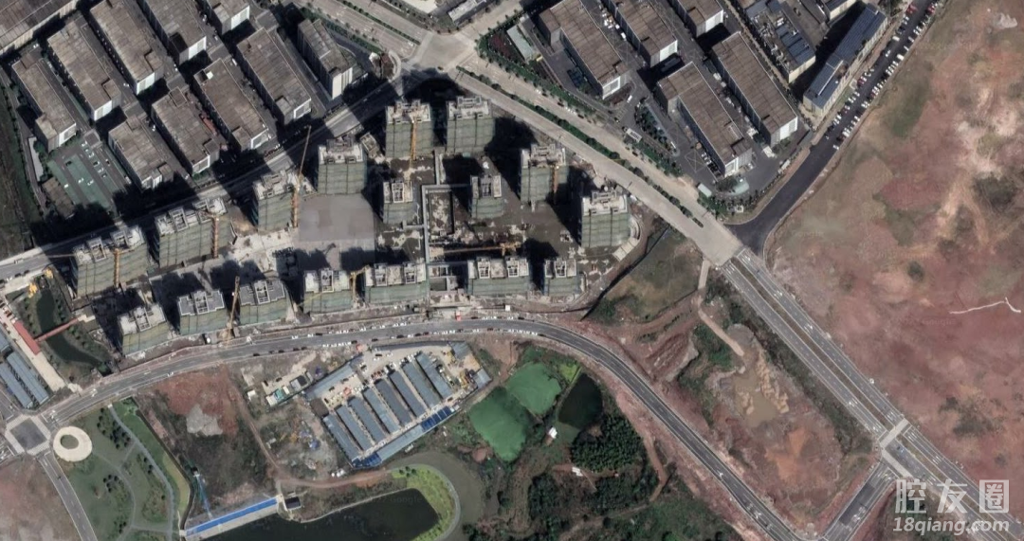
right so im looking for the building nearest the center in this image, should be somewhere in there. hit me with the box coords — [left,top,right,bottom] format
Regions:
[465,255,531,298]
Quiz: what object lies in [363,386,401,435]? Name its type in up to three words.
building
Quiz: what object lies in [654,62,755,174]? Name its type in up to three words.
building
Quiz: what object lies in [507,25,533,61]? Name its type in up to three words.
shed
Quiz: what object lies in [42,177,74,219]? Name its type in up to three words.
shed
